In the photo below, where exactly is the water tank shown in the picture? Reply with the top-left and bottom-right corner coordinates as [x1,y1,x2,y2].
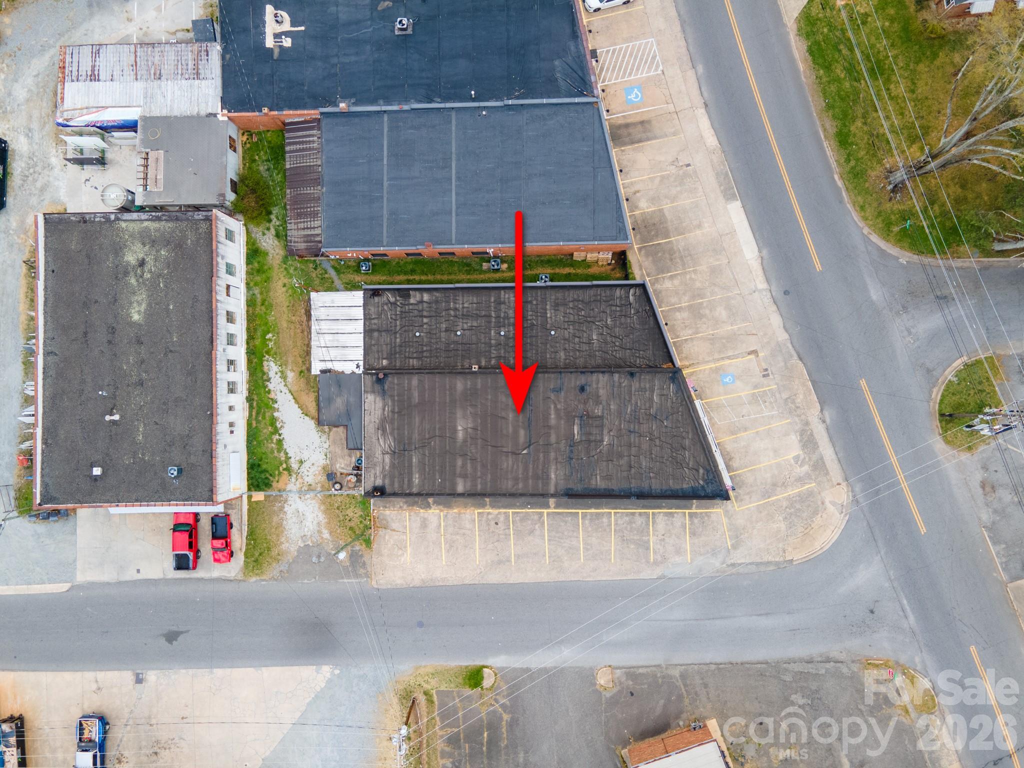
[102,184,136,212]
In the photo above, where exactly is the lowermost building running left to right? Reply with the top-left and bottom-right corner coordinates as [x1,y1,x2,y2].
[625,722,729,768]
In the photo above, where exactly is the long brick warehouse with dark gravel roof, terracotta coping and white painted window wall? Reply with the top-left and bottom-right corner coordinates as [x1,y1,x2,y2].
[34,209,243,514]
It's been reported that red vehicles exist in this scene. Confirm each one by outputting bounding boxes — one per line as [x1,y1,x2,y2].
[169,512,202,572]
[207,513,236,566]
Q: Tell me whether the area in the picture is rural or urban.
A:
urban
